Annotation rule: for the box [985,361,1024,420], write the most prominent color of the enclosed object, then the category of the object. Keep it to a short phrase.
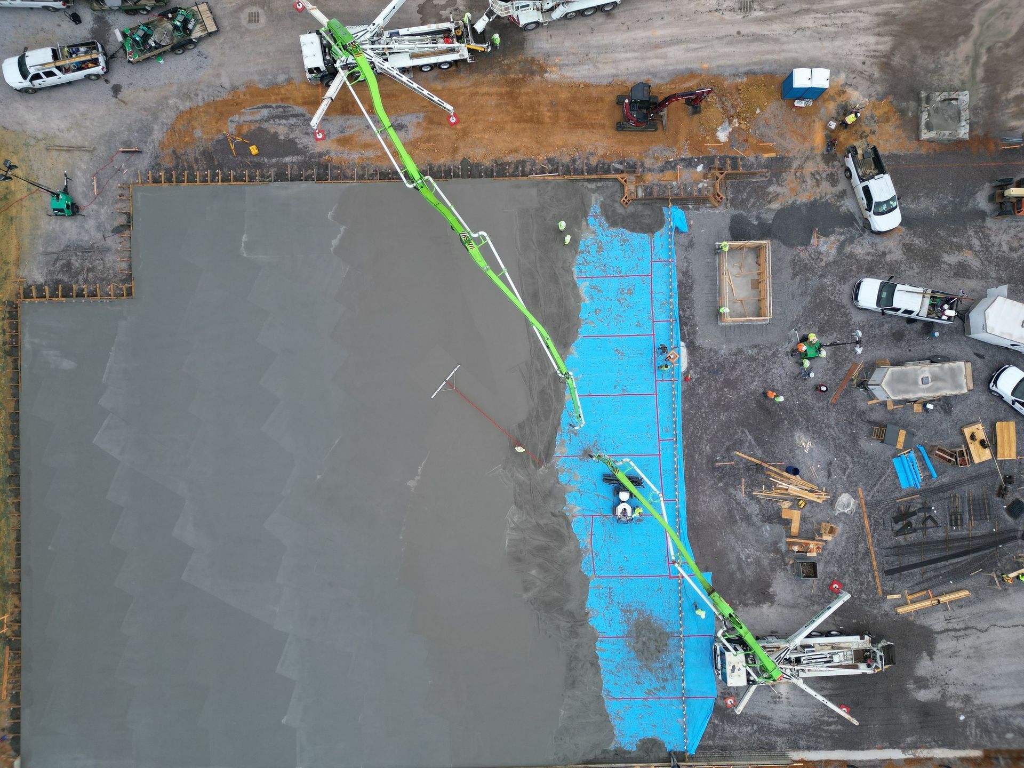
white car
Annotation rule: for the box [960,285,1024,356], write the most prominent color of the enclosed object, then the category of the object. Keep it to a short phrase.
white trailer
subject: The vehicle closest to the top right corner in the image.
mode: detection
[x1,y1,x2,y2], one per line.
[978,176,1024,219]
